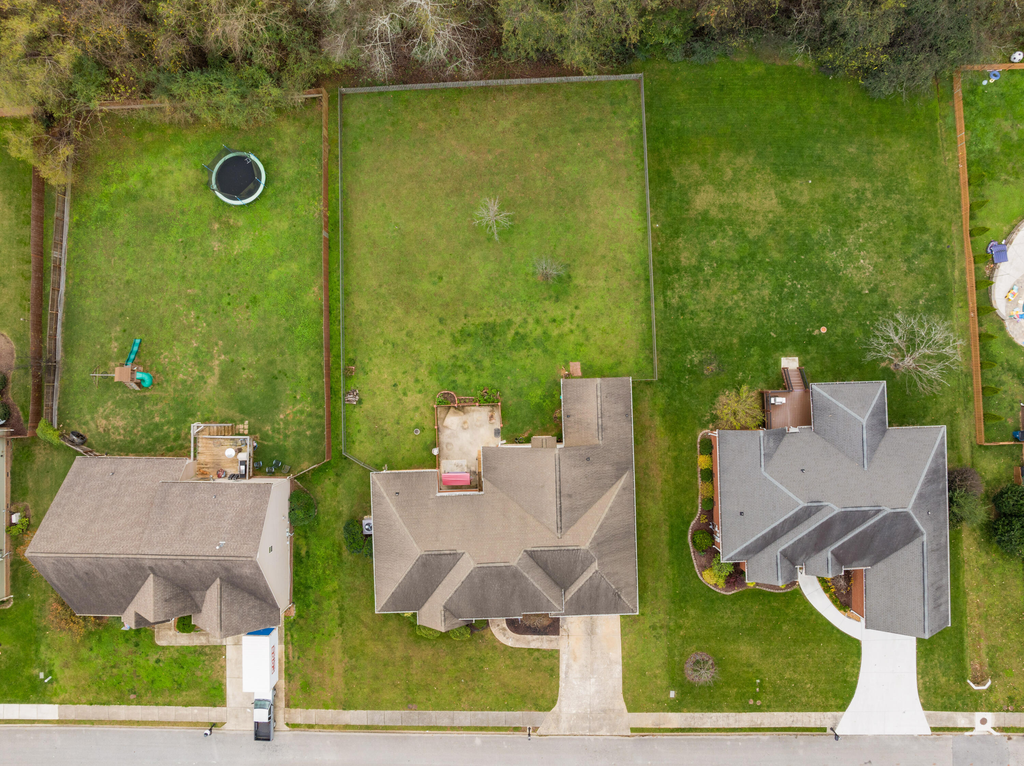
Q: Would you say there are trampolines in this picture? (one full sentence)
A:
Yes, the image includes a trampoline.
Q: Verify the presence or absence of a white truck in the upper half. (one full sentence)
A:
No, in the upper half there is no white truck.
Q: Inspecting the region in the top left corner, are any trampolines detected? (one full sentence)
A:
Yes, a trampoline is visible in the top left corner.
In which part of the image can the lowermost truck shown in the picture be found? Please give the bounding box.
[249,685,279,740]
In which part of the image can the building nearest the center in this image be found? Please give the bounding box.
[369,377,640,633]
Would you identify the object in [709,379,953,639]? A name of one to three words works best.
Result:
house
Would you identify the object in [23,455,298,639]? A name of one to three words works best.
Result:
house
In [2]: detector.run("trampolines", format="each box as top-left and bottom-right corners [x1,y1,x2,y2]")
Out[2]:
[203,144,267,207]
